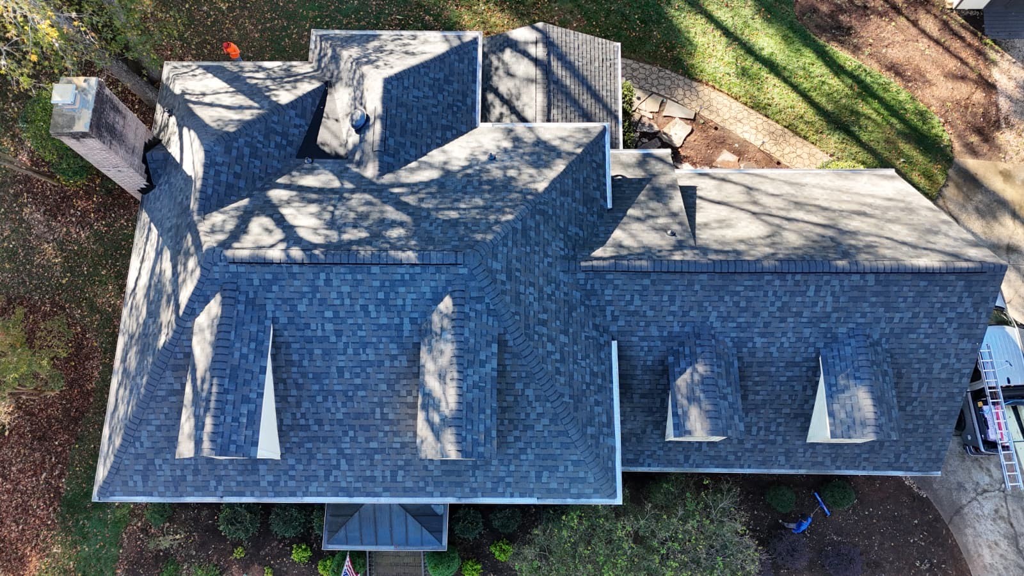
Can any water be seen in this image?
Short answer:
No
